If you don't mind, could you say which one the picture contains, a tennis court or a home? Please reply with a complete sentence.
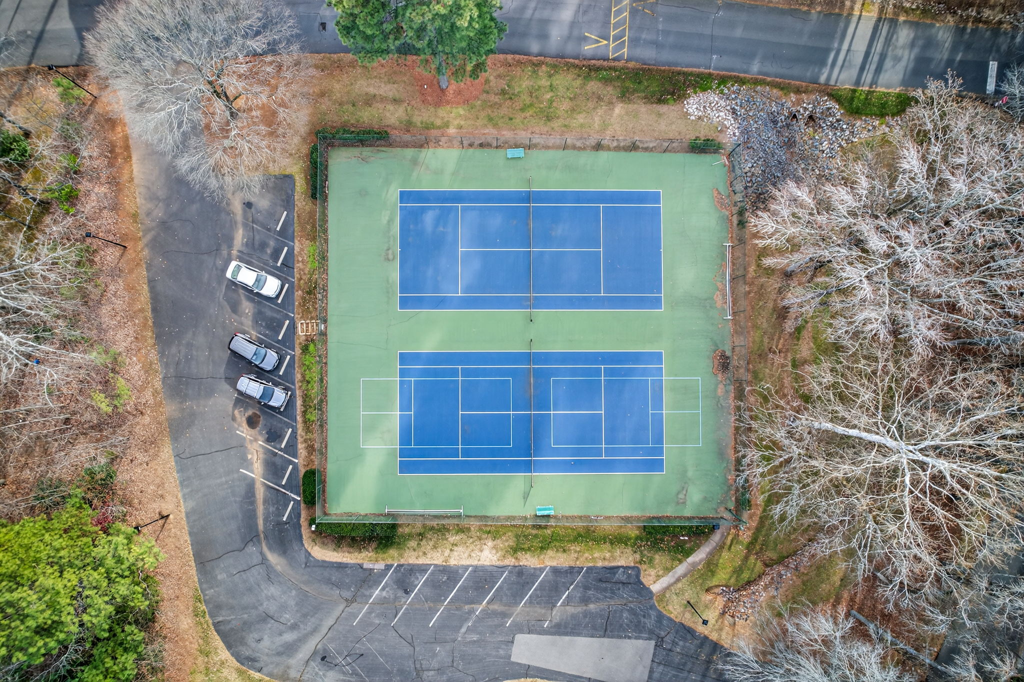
The image shows a tennis court.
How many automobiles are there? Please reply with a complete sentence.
The number of automobiles here is 3.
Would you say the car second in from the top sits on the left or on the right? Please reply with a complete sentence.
The car second in from the top is on the left side of the image.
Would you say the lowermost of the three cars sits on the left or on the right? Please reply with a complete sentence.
The lowermost of the three cars appears in the left half of the scene.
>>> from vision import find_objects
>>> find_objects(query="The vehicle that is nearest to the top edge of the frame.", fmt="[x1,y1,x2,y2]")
[227,263,282,298]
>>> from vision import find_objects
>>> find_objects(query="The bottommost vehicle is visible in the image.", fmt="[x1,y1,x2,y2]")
[236,374,289,407]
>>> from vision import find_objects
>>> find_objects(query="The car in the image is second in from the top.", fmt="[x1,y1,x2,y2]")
[229,334,282,372]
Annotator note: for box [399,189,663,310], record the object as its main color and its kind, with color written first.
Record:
blue tennis court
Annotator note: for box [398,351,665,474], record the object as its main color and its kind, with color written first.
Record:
blue tennis court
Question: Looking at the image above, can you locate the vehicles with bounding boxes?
[227,263,282,298]
[229,334,282,372]
[236,374,289,407]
